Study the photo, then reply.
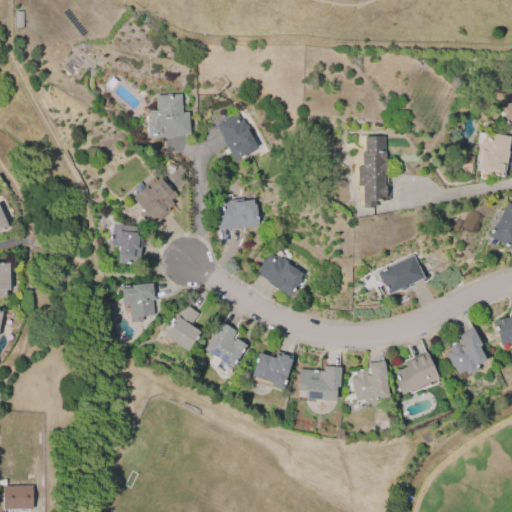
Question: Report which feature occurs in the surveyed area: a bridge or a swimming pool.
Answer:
swimming pool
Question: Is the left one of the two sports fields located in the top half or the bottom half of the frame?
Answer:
bottom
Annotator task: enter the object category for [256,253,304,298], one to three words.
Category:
house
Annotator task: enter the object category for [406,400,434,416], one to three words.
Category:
swimming pool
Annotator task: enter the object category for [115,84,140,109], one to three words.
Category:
swimming pool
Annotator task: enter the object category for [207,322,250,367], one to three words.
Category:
house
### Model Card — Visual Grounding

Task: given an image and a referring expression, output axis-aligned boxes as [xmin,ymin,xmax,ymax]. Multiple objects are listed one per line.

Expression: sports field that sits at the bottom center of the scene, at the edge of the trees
[109,394,339,512]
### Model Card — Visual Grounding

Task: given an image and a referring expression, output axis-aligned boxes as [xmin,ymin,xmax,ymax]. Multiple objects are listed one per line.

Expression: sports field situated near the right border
[422,424,512,512]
